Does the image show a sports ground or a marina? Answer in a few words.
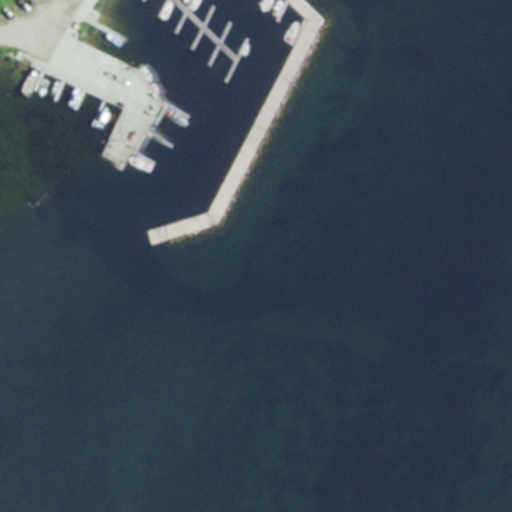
marina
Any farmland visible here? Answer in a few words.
No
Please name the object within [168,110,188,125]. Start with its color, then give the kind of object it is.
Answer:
white boat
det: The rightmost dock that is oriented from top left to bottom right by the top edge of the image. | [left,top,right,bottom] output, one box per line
[158,0,250,83]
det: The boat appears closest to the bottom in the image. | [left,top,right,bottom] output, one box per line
[129,155,157,174]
